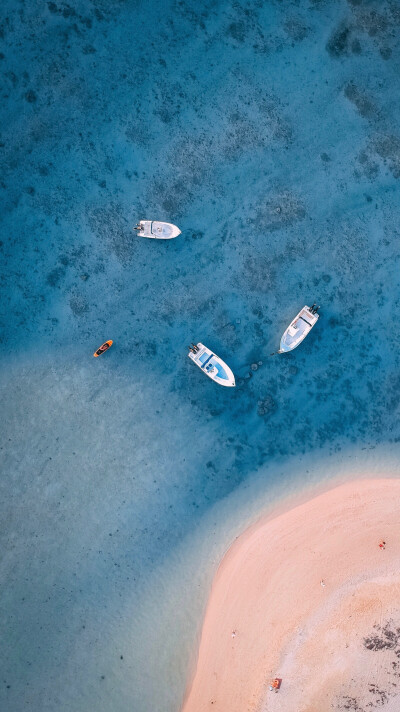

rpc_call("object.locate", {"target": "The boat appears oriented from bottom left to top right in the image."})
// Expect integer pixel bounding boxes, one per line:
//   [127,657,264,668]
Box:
[278,302,321,354]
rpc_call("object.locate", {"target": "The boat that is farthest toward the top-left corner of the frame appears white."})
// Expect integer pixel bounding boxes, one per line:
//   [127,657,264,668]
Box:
[131,219,182,240]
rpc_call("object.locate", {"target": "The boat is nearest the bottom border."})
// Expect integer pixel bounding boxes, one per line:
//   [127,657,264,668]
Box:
[186,341,237,387]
